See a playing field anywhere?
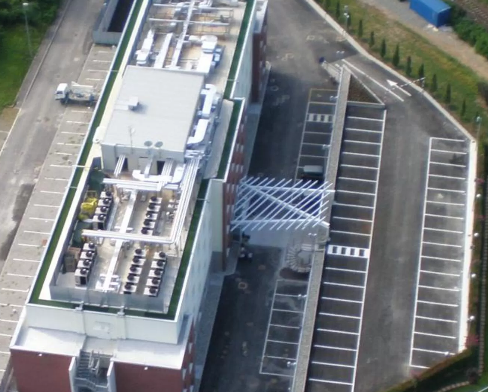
No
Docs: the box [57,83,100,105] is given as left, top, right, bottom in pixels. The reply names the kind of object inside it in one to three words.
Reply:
truck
